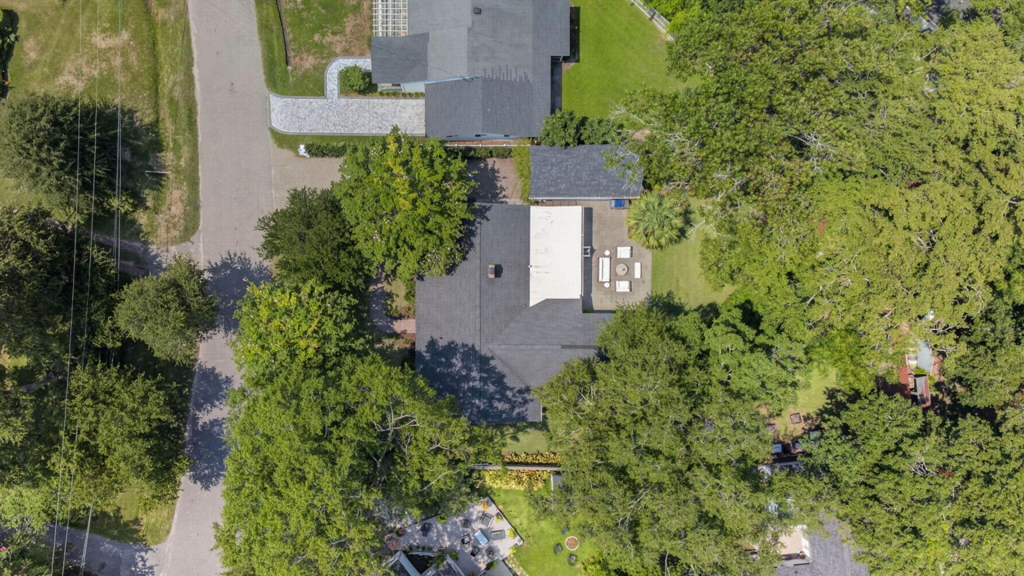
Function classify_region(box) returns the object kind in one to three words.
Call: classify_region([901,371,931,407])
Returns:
shed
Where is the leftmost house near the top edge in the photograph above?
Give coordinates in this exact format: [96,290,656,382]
[372,0,570,141]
